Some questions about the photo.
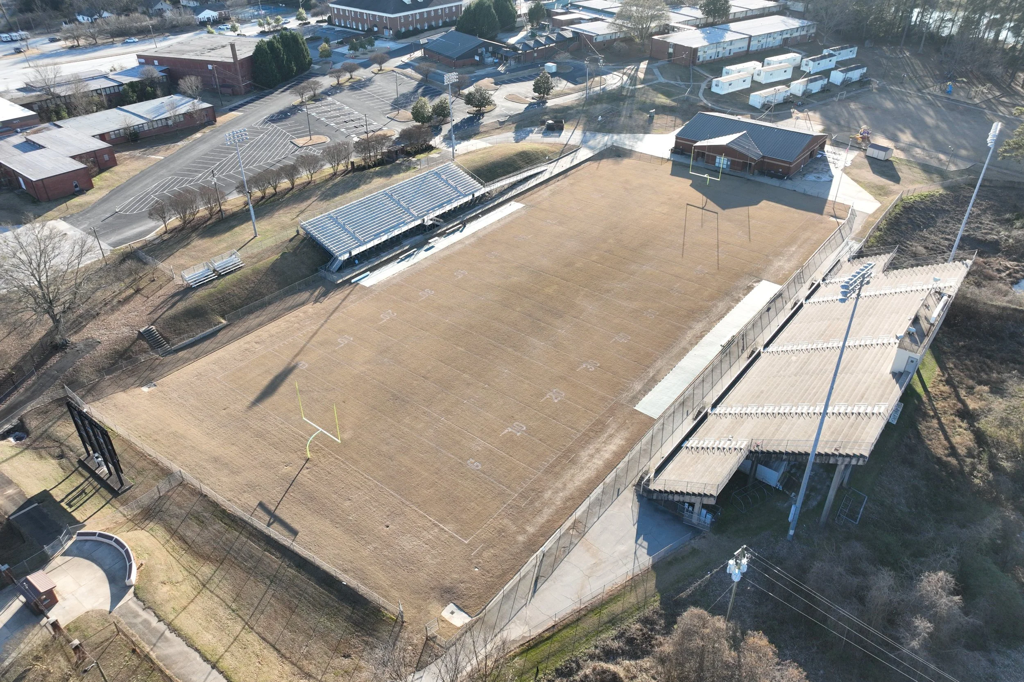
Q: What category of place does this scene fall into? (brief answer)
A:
sports ground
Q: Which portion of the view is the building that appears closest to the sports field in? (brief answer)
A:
top right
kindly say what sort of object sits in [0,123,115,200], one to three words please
building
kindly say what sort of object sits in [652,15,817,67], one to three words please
building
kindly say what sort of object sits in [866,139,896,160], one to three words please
shed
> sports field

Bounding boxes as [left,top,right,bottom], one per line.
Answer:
[91,151,848,622]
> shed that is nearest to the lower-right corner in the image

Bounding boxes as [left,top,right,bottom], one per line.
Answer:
[763,458,819,502]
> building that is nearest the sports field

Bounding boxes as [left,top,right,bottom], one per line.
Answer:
[674,108,836,175]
